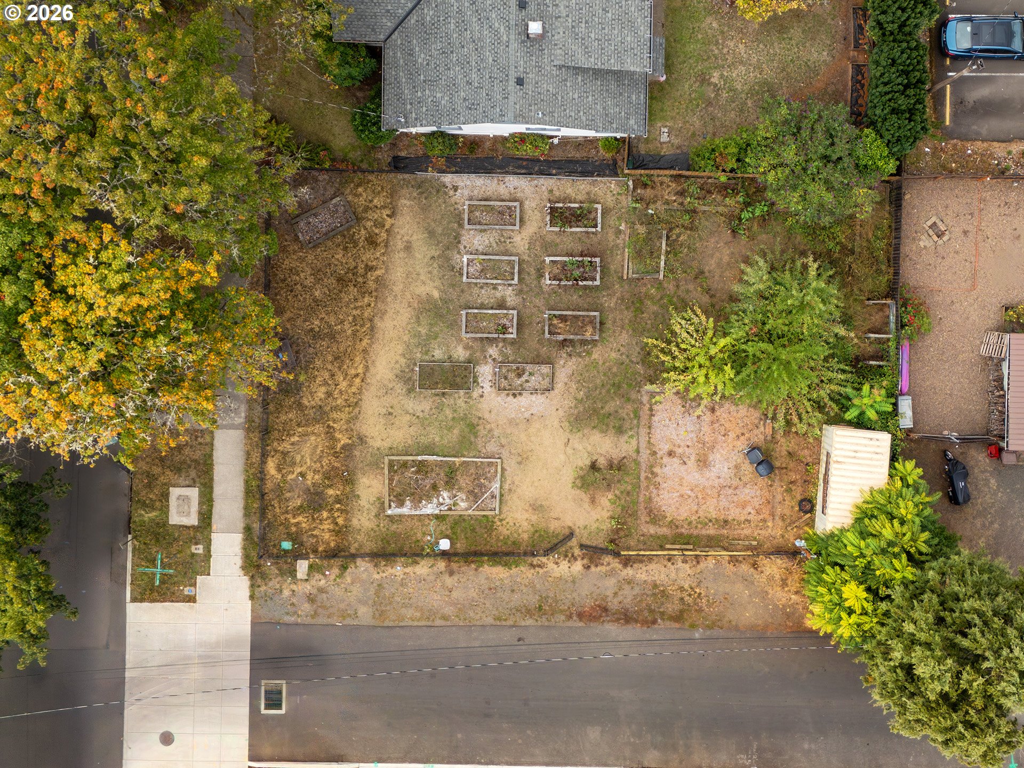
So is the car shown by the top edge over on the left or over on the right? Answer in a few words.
right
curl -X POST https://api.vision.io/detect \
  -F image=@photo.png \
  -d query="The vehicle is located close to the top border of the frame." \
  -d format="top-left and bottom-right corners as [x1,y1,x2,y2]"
[938,10,1024,61]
